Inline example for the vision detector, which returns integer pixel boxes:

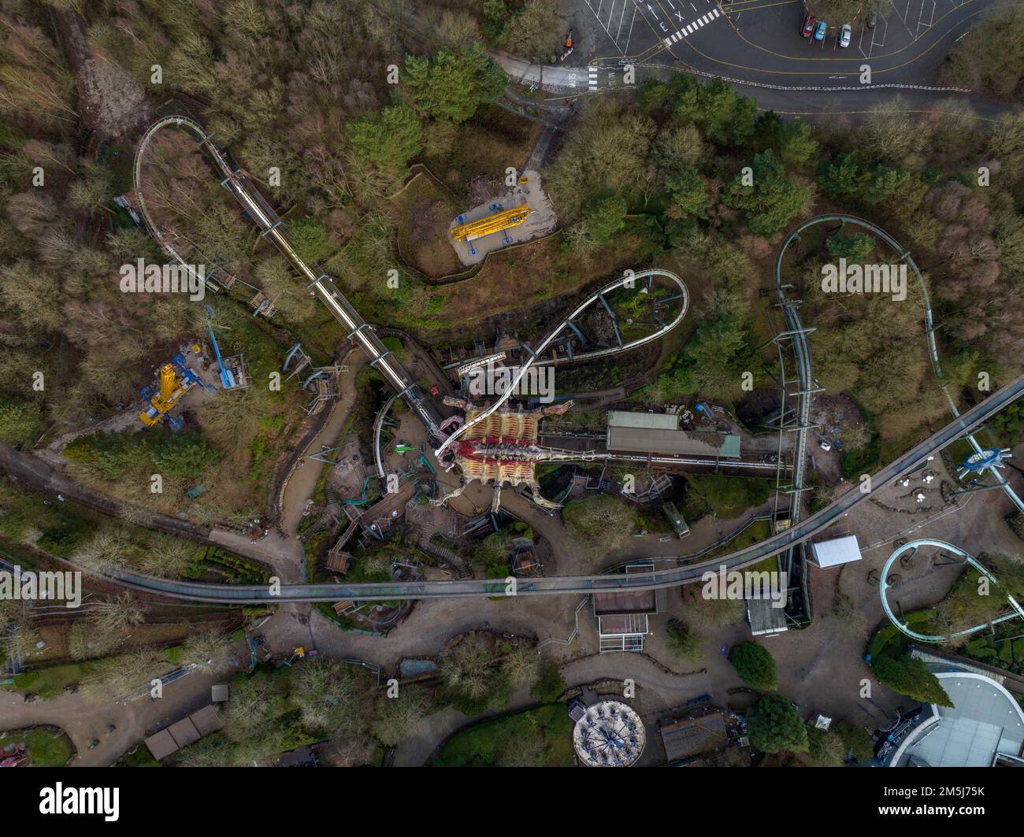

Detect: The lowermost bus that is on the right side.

[662,501,692,540]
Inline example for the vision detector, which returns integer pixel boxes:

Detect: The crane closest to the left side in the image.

[136,354,212,428]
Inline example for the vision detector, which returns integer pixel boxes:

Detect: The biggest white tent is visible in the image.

[809,532,862,568]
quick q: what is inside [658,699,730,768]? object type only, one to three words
building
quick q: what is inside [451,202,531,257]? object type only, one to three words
crane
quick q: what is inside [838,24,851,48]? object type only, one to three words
vehicle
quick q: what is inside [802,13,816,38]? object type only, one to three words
car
